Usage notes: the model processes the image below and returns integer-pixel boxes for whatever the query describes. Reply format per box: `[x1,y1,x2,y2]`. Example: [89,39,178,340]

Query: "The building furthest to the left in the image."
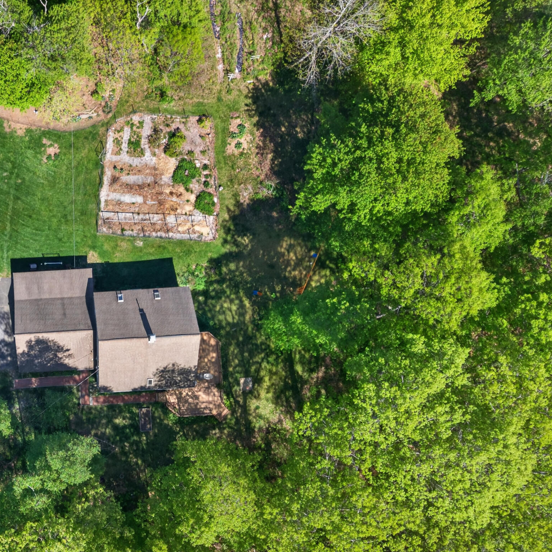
[10,268,94,373]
